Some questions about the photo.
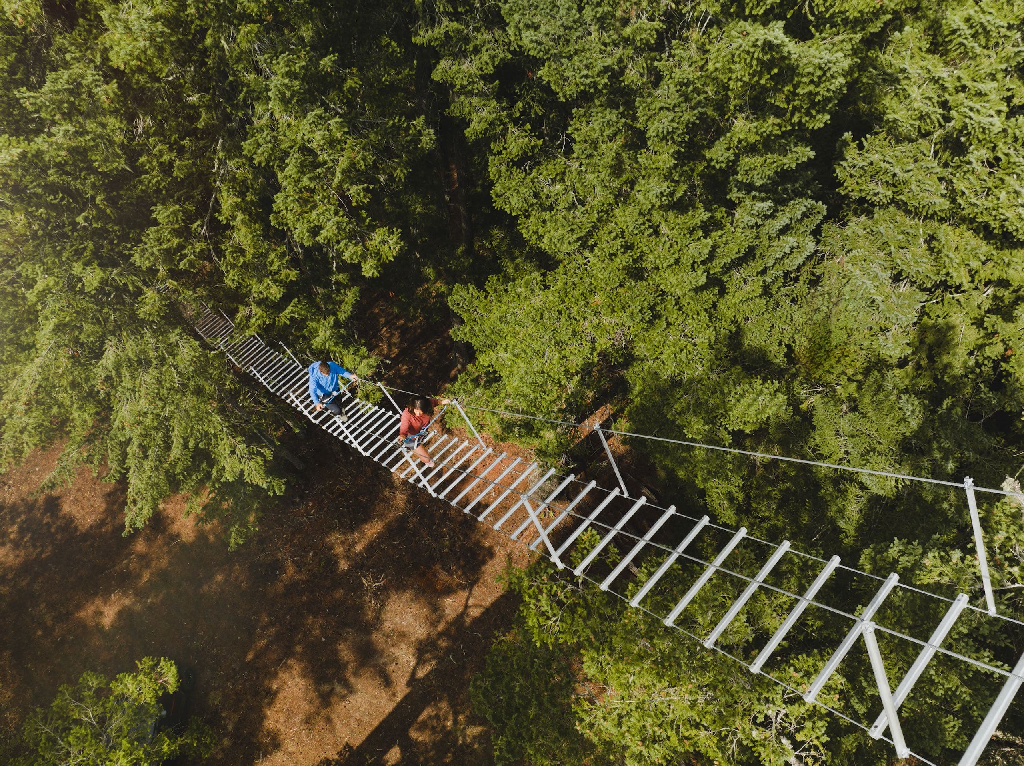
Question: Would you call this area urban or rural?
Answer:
rural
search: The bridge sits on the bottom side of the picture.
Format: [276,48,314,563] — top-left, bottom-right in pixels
[175,292,1024,766]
